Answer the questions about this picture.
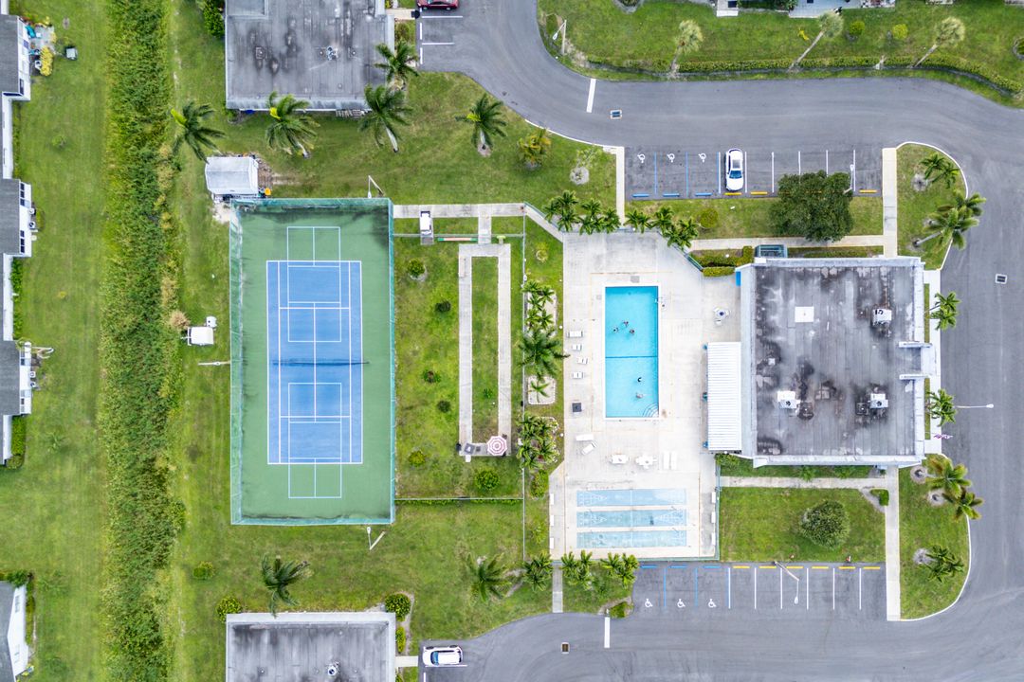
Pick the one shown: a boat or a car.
car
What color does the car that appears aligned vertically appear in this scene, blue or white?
white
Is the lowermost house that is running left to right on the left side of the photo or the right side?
left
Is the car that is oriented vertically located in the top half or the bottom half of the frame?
top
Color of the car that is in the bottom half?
white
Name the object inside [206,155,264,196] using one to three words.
shed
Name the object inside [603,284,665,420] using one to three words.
swimming pool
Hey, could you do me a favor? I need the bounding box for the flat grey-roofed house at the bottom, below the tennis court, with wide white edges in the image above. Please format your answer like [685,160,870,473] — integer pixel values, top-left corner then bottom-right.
[226,611,395,682]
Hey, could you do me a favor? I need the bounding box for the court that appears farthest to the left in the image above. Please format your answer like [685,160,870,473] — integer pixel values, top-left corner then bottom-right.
[241,204,389,517]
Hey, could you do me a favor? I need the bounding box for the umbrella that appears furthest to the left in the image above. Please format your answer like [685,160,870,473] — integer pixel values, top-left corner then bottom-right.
[487,438,506,458]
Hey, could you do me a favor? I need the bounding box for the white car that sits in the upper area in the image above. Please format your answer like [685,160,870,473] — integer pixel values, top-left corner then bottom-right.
[725,148,745,190]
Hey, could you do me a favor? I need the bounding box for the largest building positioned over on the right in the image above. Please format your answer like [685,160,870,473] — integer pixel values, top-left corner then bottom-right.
[700,257,931,468]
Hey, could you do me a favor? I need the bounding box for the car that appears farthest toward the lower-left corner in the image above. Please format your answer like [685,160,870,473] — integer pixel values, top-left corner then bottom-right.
[421,648,461,671]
